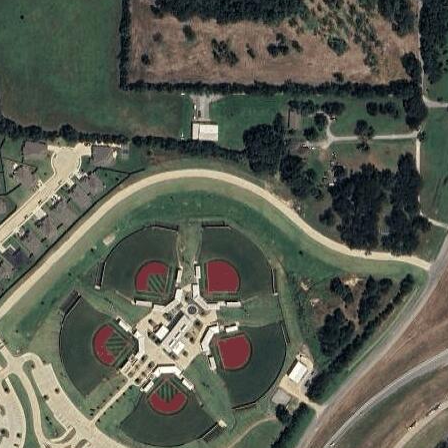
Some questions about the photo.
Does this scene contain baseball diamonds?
Yes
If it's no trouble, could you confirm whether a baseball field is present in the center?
Yes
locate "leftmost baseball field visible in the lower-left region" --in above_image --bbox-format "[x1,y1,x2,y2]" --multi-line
[60,298,138,396]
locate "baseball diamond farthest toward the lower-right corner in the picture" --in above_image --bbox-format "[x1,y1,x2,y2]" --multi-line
[210,321,286,409]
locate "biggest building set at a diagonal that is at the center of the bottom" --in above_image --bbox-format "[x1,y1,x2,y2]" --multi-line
[162,314,193,348]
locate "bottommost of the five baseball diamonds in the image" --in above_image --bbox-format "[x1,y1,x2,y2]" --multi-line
[121,376,217,447]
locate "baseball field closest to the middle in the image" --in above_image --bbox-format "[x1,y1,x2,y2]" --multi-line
[200,227,275,303]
